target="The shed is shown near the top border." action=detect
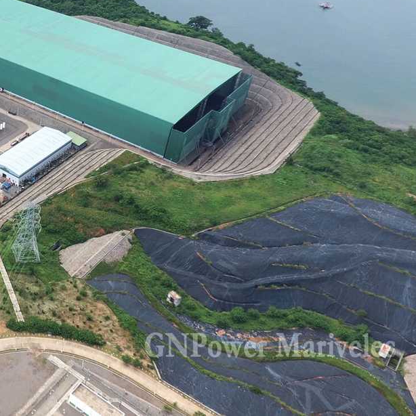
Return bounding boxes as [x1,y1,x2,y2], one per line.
[0,0,254,163]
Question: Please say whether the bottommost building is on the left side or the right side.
left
